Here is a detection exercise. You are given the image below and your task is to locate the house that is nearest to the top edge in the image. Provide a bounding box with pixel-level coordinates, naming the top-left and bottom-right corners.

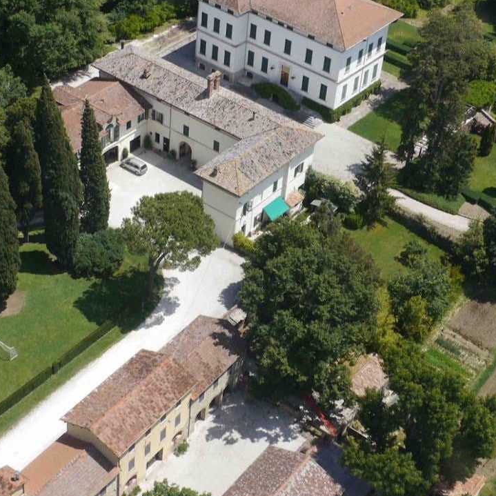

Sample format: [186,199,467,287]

[195,0,404,109]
